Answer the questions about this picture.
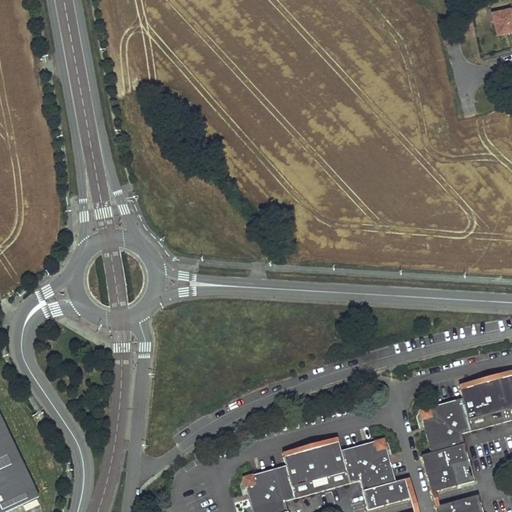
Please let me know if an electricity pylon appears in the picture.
No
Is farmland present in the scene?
Yes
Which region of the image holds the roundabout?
left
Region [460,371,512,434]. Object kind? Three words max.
building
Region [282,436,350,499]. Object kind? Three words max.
building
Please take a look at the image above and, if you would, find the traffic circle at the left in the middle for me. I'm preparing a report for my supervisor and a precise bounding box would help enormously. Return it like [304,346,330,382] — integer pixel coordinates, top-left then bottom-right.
[38,202,206,343]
